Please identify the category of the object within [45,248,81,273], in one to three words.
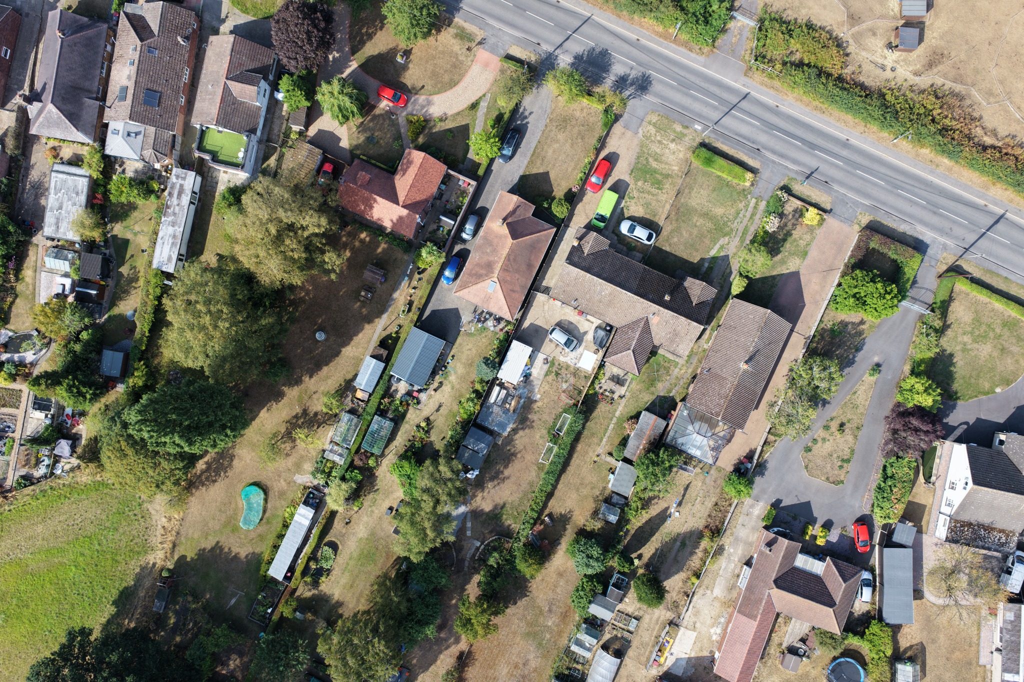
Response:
greenhouse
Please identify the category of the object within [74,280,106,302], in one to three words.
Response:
shed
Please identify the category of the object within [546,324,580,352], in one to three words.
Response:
car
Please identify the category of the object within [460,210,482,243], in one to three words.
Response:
car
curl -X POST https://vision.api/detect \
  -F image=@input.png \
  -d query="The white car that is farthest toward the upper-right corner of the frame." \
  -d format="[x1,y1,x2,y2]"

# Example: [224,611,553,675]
[618,221,656,246]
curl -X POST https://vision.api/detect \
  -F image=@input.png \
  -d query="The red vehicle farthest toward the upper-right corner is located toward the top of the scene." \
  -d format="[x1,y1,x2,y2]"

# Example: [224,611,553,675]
[587,158,612,194]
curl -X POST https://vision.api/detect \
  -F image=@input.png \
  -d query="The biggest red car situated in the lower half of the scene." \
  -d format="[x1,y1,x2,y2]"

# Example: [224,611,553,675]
[851,521,872,553]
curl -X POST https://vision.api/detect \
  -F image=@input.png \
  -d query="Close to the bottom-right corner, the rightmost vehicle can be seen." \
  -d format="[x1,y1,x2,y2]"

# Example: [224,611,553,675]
[998,552,1024,594]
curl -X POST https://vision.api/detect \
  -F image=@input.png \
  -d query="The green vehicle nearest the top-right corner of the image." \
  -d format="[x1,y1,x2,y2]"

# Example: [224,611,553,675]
[590,192,617,231]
